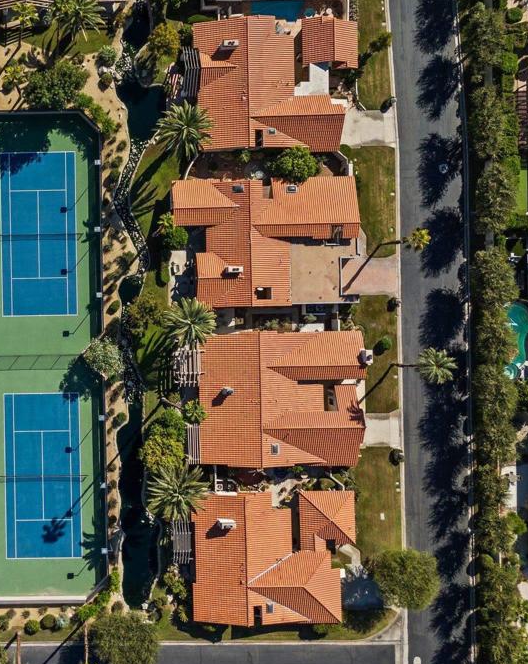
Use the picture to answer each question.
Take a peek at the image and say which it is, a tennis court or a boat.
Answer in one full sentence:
Looking from above, you can make out a tennis court.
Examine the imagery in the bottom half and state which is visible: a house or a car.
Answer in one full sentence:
What appears in the bottom half is a house.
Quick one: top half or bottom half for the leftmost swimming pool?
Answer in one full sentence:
The top half of the photo is where the leftmost swimming pool is.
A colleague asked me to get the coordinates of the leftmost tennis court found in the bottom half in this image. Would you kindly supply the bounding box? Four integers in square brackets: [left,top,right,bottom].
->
[0,393,87,559]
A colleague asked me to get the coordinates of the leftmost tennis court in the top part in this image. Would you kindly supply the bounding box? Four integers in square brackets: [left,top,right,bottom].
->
[0,151,83,317]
